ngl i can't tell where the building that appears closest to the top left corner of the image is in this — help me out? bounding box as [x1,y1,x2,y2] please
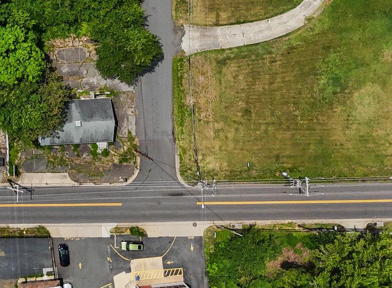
[39,97,115,152]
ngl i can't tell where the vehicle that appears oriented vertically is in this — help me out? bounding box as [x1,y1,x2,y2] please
[58,244,71,268]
